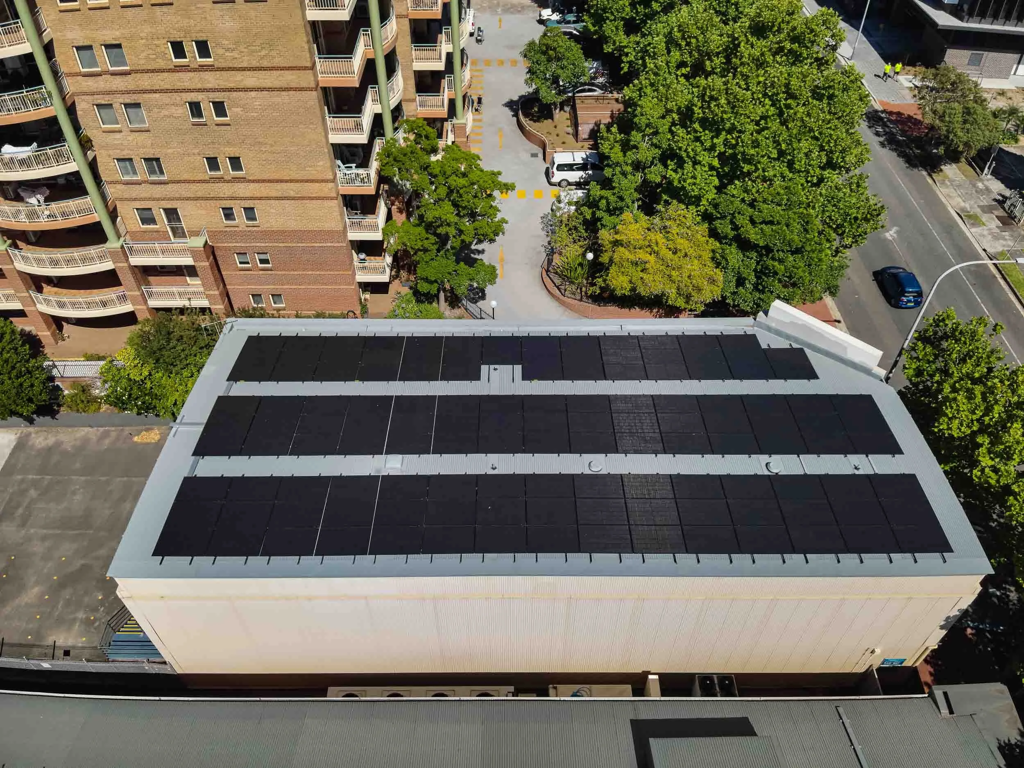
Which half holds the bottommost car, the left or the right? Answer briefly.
right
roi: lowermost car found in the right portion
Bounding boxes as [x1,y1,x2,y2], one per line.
[873,263,929,309]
